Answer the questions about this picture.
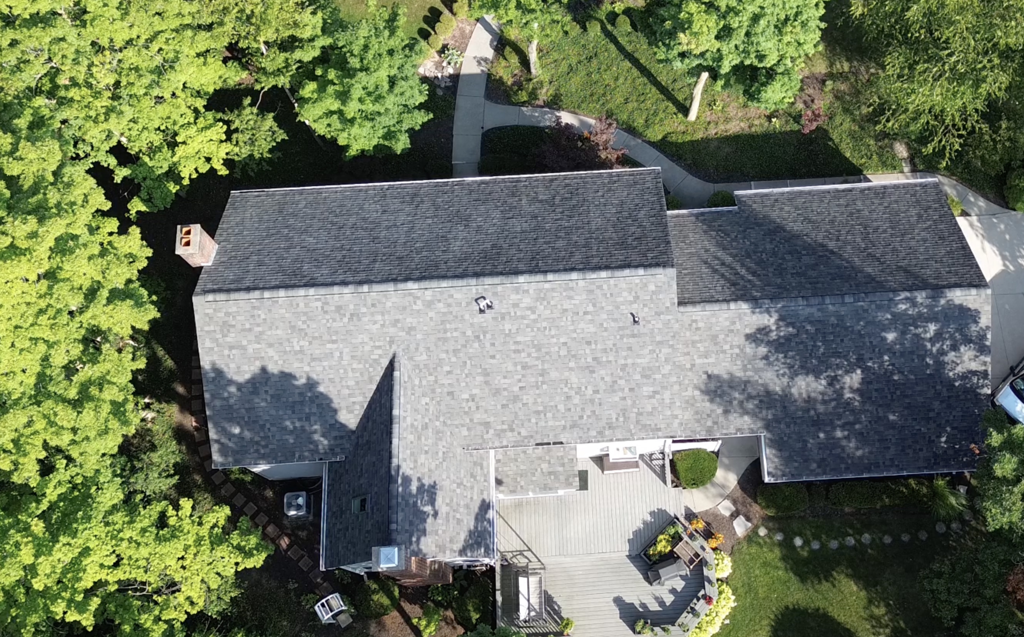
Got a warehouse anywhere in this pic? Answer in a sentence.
No, there's no warehouse here.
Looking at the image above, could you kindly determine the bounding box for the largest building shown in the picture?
[176,163,992,585]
